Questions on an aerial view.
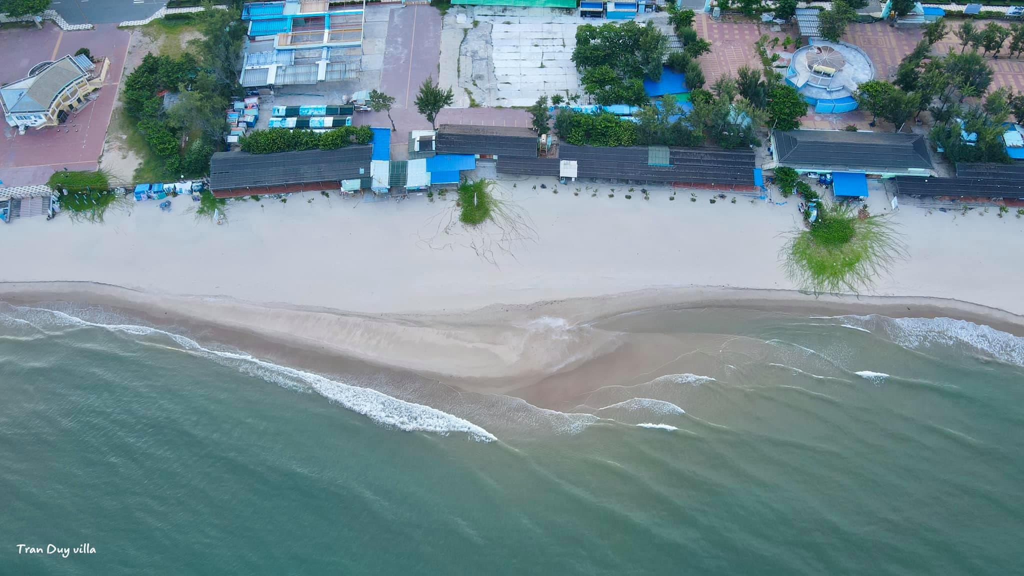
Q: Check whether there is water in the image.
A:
Yes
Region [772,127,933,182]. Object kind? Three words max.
building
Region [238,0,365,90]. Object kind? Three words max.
shed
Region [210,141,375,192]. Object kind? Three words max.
building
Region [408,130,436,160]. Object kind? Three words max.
house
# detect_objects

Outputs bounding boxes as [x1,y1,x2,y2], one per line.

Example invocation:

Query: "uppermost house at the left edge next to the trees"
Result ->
[0,54,114,133]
